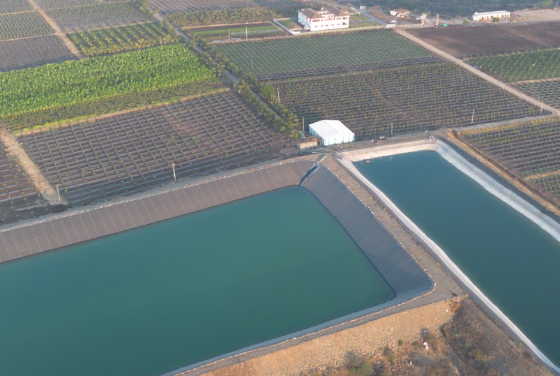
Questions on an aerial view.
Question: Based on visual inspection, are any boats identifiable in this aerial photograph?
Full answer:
No, there's no boat here.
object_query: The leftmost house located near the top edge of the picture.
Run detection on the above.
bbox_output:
[299,2,351,31]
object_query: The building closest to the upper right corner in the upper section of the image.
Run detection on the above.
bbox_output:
[467,9,512,22]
